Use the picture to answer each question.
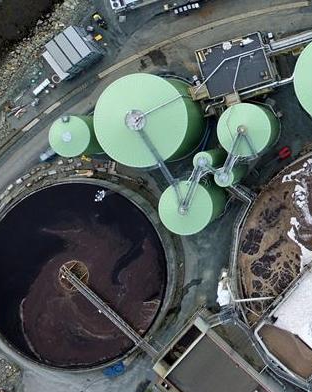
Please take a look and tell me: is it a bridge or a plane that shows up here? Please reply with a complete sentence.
Visible in the photo is a bridge.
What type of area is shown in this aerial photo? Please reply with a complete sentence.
The area seen from above is an industrial area.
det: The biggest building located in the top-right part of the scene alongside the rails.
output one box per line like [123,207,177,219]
[194,31,277,100]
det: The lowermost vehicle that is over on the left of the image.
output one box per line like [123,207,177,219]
[40,147,58,161]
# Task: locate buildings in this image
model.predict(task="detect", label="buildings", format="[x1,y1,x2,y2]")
[194,31,277,100]
[43,25,104,81]
[163,329,273,392]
